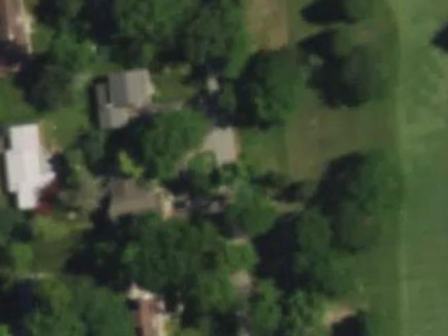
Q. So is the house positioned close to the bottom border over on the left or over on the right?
left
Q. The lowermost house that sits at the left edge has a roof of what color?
white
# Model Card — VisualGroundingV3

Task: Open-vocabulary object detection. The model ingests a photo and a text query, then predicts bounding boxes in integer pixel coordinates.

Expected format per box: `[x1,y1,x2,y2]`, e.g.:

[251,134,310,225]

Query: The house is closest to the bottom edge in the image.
[128,285,166,336]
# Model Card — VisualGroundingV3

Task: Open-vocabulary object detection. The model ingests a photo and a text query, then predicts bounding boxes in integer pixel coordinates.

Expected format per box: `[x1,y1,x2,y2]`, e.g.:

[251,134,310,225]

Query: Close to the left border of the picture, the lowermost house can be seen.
[5,123,57,210]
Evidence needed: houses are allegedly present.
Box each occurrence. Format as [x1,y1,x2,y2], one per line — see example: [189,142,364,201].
[0,0,32,77]
[106,174,174,215]
[128,285,166,336]
[94,66,154,131]
[5,123,57,210]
